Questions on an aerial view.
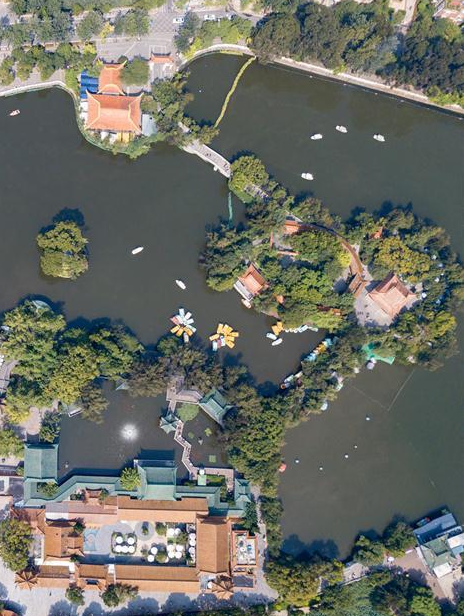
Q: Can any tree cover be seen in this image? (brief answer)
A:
Yes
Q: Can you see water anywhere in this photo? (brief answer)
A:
Yes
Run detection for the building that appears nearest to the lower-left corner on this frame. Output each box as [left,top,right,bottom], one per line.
[14,567,37,593]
